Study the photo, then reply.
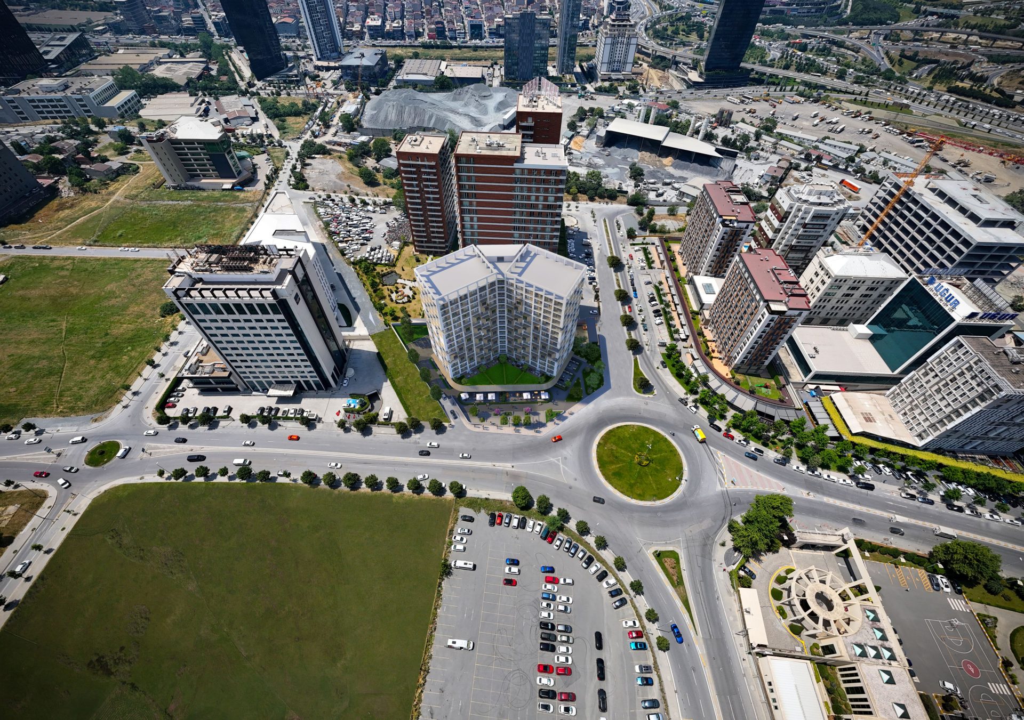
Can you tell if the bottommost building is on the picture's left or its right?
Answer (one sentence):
You can find the bottommost building on the right side of the picture.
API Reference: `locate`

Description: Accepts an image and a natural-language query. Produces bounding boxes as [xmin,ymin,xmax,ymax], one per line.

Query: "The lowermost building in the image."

[749,659,828,720]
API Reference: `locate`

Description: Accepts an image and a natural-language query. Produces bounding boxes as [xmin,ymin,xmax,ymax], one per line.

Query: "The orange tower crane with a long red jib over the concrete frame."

[855,124,1024,248]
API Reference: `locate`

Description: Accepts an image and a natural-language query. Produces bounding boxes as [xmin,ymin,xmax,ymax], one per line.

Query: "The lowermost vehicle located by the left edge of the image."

[18,559,31,573]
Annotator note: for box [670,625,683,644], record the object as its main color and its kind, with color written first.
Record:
blue vehicle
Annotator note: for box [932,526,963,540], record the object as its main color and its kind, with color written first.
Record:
white vehicle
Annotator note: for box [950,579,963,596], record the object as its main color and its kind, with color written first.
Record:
black vehicle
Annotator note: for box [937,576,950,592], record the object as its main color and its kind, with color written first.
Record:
white vehicle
